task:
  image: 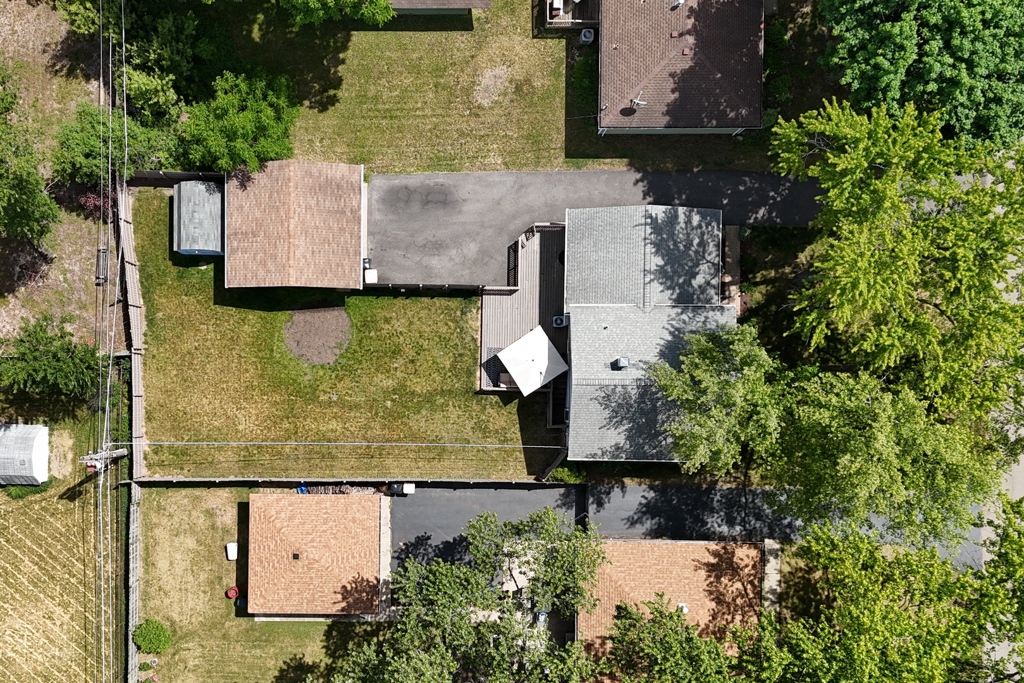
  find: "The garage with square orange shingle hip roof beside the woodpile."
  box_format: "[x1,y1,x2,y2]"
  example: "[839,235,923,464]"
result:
[249,491,383,614]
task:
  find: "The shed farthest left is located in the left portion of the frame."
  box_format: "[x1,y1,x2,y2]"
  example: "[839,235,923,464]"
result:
[0,425,49,484]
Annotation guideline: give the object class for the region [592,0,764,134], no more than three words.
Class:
house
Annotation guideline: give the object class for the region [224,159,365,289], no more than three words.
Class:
building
